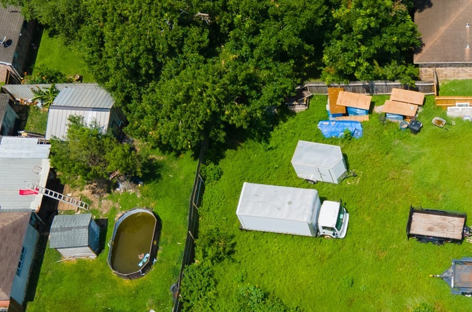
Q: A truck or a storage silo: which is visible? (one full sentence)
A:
There is a truck in the scene.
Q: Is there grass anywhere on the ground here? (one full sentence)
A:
Yes, there's grass in this view.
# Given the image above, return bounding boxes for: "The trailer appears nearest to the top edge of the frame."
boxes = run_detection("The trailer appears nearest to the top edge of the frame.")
[293,142,360,185]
